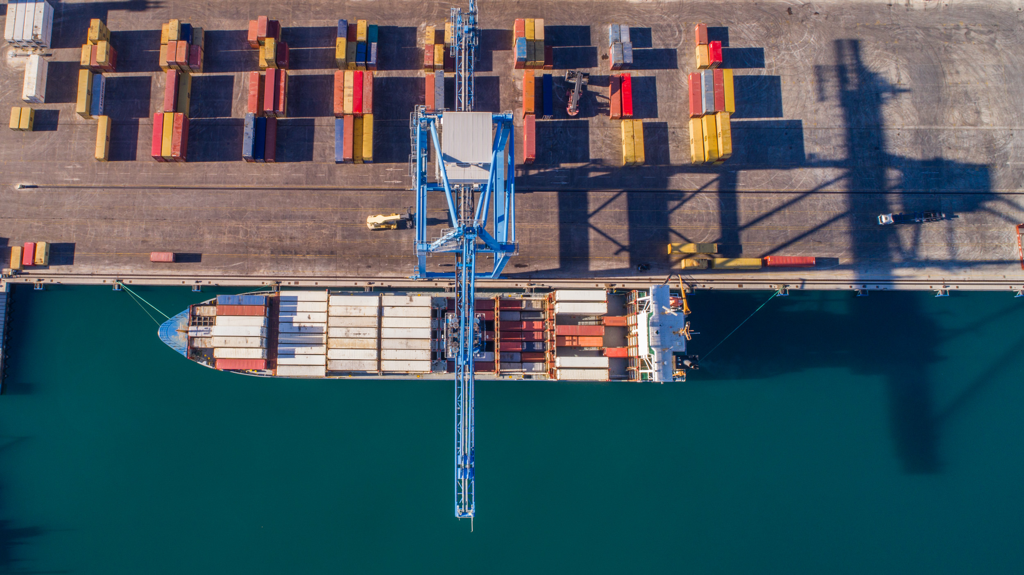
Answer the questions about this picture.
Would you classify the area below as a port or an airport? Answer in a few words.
port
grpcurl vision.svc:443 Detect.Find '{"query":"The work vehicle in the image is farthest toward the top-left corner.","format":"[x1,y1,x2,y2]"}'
[367,207,416,232]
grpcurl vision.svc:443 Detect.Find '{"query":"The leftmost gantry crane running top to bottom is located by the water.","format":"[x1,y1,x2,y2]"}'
[403,0,521,535]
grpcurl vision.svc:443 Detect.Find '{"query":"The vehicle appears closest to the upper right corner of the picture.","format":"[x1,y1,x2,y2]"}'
[875,210,942,225]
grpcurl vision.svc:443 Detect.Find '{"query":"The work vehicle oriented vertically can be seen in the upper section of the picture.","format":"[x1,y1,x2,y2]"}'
[564,64,591,120]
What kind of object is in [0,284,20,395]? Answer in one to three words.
pier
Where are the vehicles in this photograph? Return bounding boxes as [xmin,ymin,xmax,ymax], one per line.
[875,210,942,225]
[638,264,651,270]
[564,64,591,120]
[367,207,416,232]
